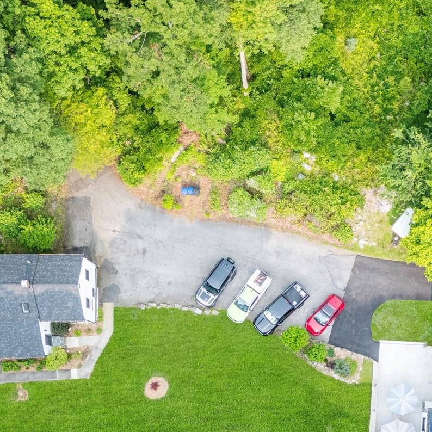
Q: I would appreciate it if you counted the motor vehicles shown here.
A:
4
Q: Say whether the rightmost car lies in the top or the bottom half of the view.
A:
bottom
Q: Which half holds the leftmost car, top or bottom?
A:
bottom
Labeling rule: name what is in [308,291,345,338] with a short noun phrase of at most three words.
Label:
car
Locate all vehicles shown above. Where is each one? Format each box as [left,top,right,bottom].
[227,263,274,328]
[255,277,310,338]
[308,291,345,338]
[199,258,235,306]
